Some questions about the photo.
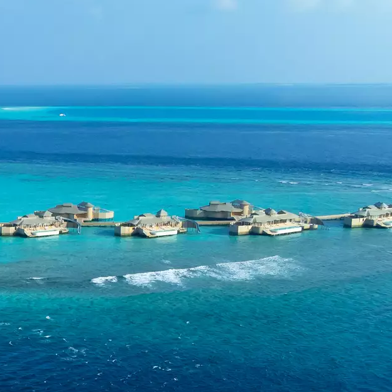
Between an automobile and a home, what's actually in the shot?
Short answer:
home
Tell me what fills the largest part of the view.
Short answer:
water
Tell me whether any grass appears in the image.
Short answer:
No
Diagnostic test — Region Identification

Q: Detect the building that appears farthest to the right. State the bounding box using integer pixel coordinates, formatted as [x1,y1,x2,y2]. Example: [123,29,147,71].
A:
[339,201,392,228]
